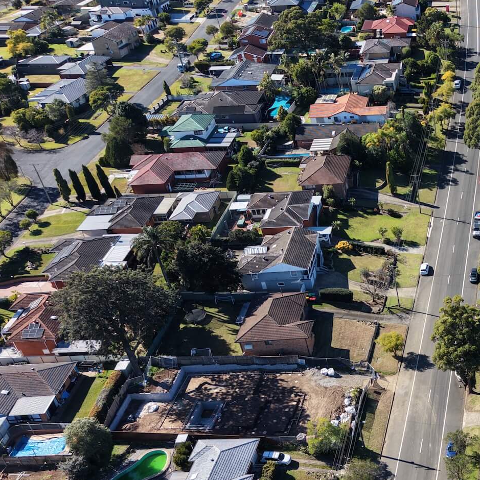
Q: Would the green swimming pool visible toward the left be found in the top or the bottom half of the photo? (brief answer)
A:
bottom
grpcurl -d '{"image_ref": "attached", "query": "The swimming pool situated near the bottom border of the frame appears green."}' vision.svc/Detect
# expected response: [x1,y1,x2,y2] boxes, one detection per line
[109,448,171,480]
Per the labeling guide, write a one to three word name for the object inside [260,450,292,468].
car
